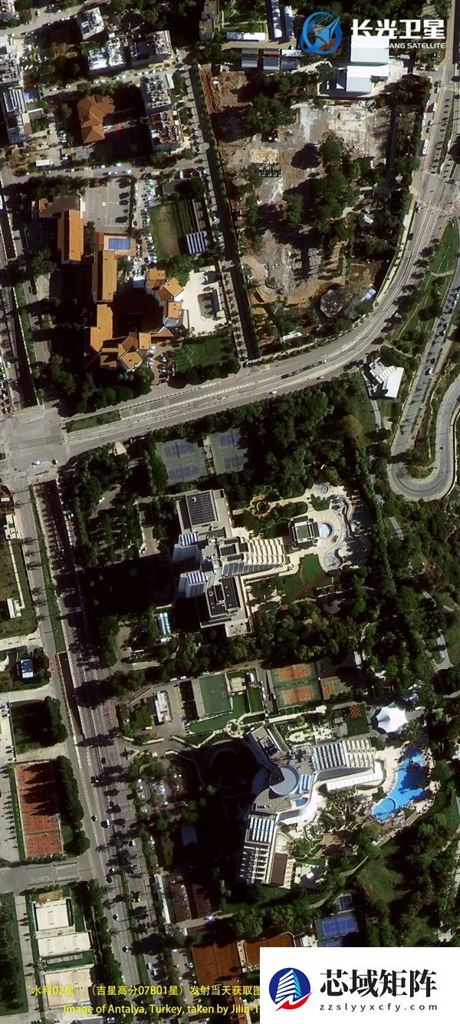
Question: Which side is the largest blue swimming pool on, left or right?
right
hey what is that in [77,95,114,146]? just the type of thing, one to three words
house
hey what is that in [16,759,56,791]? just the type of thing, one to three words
basketball court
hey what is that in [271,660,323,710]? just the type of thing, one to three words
tennis court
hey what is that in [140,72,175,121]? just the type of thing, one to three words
building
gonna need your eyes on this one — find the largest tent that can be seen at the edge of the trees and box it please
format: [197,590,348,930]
[375,703,410,737]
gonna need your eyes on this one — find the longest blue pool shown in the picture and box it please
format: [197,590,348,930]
[372,746,429,821]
